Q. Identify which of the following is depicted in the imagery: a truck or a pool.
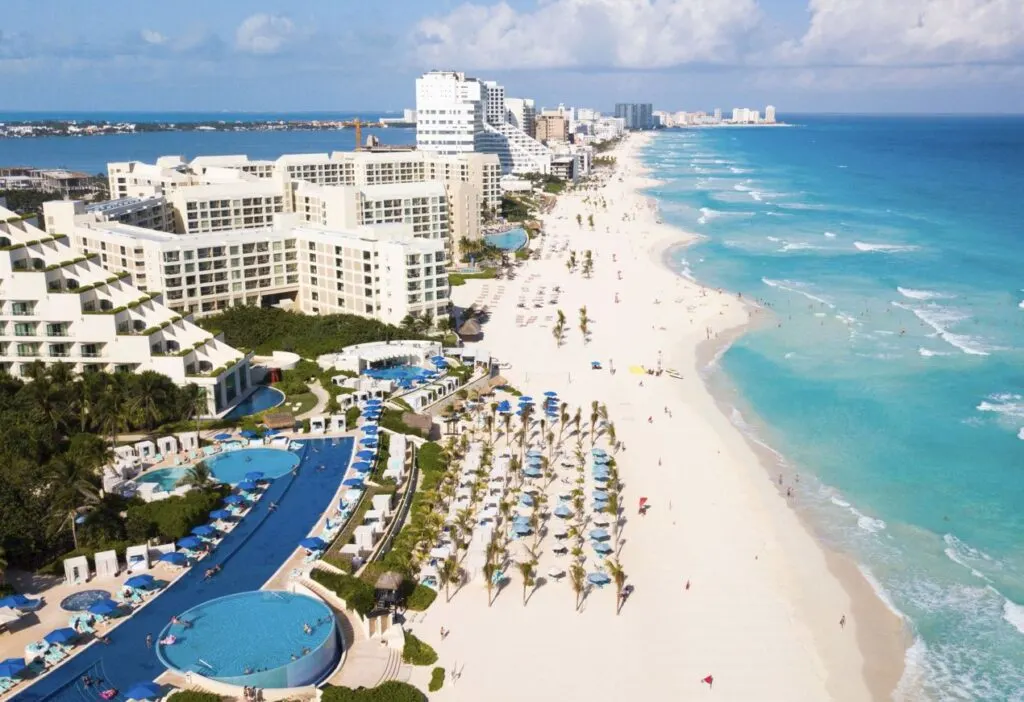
pool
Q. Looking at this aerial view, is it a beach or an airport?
beach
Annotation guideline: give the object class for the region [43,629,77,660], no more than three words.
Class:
umbrella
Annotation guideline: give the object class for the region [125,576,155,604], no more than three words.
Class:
umbrella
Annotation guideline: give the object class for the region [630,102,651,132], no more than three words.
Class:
building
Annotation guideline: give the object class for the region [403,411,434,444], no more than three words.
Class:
shed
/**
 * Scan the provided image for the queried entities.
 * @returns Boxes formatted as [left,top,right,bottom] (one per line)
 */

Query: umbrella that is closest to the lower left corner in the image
[0,660,30,693]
